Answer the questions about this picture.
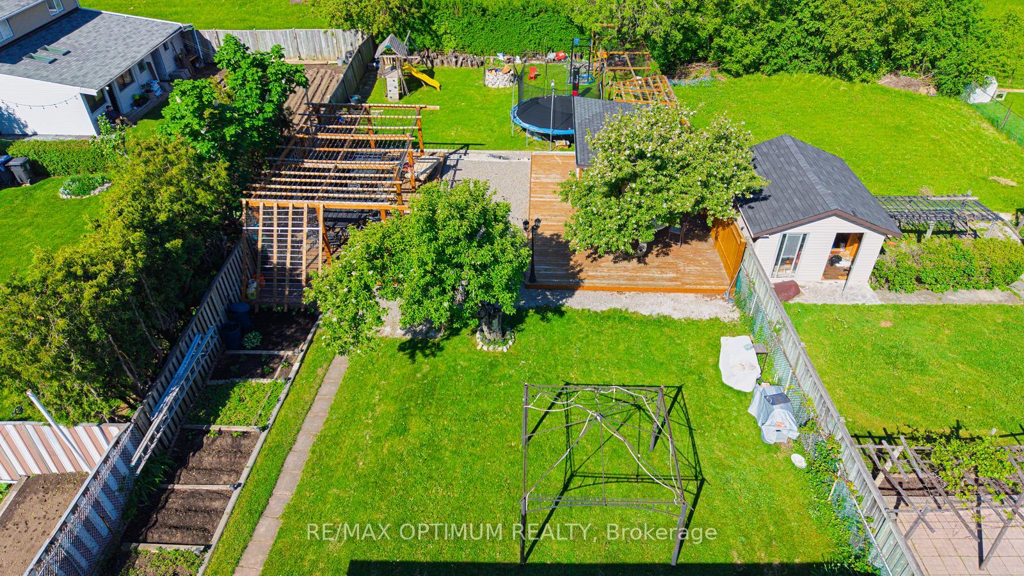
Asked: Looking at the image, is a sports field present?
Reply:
No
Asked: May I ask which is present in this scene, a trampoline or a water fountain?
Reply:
trampoline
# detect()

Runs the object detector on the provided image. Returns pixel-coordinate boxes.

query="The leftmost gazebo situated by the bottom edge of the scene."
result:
[517,381,696,568]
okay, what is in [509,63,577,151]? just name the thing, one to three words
trampoline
